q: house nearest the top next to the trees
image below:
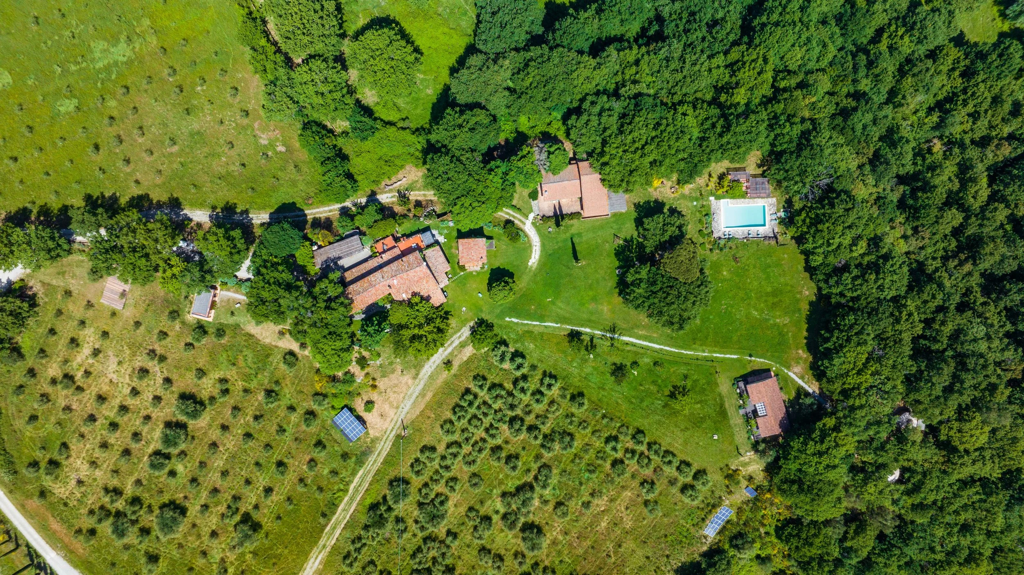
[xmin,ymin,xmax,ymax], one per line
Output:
[531,160,627,219]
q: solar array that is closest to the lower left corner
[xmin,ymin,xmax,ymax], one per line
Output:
[332,408,367,443]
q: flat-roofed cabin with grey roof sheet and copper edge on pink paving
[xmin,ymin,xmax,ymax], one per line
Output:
[189,285,220,321]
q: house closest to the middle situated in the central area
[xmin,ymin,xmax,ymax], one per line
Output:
[458,238,494,271]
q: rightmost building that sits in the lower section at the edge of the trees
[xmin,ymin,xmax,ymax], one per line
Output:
[736,371,791,440]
